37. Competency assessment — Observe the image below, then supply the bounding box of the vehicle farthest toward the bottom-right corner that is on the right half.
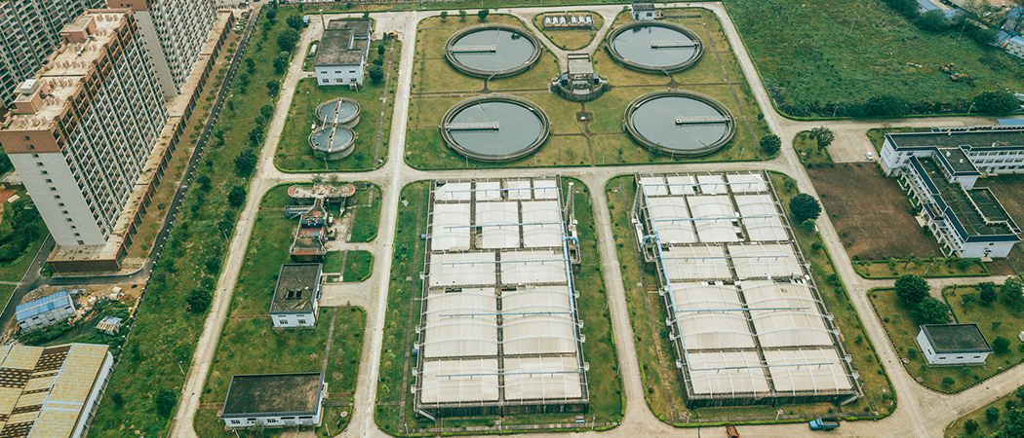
[808,417,843,431]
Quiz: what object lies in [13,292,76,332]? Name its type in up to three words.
shed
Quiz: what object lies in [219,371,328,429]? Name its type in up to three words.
house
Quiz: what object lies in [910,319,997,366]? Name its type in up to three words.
building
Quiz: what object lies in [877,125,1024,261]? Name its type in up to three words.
building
